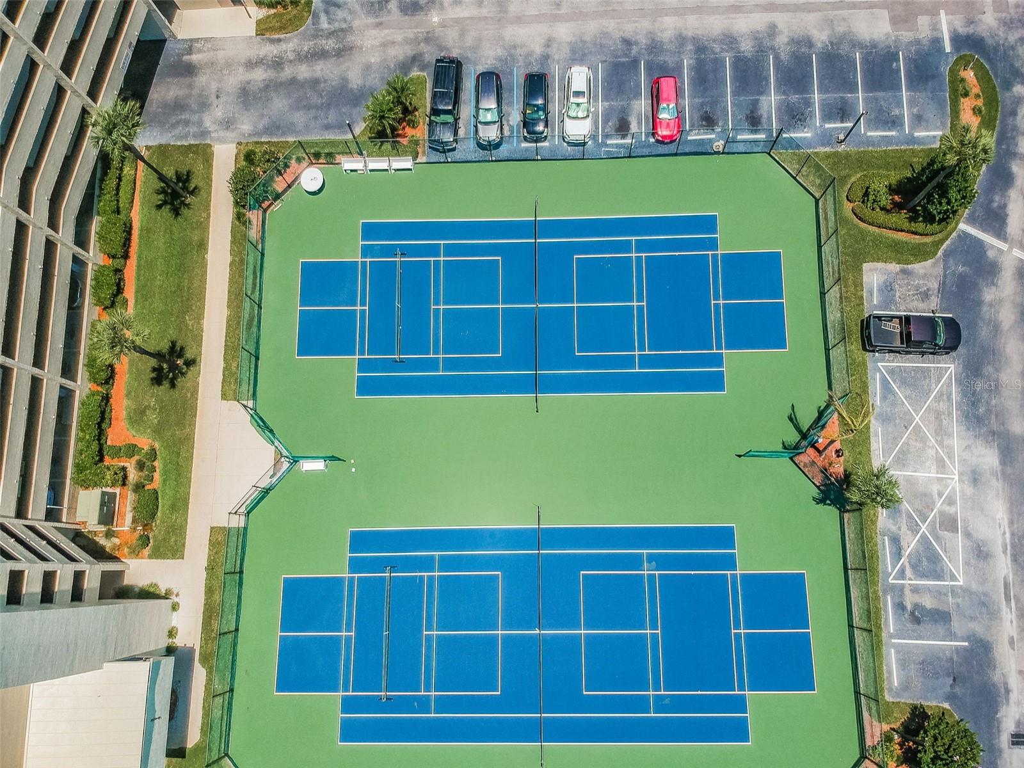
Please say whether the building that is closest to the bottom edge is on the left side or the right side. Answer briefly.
left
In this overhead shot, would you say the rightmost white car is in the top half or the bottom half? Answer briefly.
top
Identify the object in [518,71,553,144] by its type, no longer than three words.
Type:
car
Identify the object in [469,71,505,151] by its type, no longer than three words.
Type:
car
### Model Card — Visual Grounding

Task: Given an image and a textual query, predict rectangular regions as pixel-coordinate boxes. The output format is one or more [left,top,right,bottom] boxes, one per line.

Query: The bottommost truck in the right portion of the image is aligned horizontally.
[858,310,963,354]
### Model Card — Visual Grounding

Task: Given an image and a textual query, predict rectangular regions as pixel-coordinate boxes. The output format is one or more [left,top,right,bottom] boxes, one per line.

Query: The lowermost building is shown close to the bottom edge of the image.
[0,651,179,768]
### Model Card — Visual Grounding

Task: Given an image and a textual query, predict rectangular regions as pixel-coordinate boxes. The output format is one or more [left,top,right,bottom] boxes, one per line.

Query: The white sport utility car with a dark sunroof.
[560,66,597,148]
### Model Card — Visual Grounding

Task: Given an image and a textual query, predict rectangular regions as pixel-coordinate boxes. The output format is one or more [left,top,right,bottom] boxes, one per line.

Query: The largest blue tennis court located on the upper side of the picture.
[354,213,728,399]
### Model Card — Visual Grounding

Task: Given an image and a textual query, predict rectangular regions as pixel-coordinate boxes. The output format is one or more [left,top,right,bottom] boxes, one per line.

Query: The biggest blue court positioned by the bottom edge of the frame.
[339,526,751,744]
